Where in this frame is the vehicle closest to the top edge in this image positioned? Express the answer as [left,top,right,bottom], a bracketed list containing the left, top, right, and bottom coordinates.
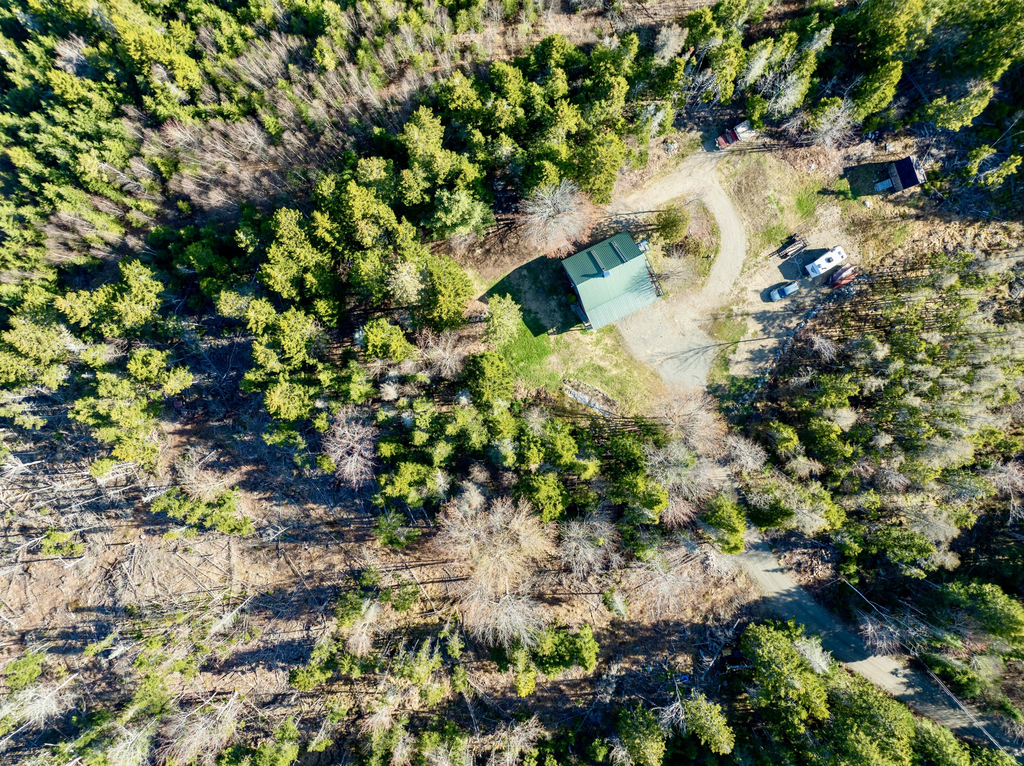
[714,121,755,150]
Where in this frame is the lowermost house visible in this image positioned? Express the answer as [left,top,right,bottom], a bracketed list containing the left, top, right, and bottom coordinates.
[561,231,665,334]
